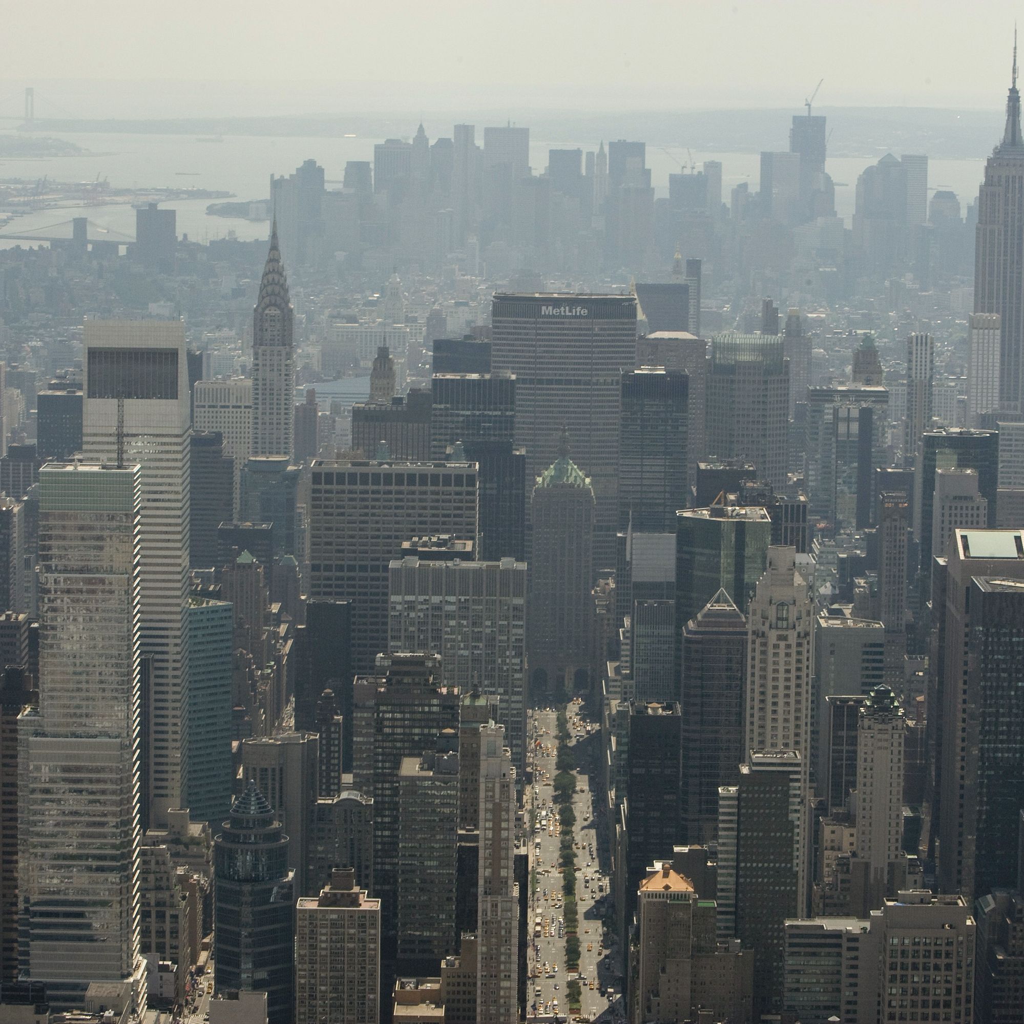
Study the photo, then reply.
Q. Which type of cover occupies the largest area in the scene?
buildings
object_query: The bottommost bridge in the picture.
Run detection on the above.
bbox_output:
[0,217,135,249]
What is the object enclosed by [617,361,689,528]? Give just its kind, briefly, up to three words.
building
